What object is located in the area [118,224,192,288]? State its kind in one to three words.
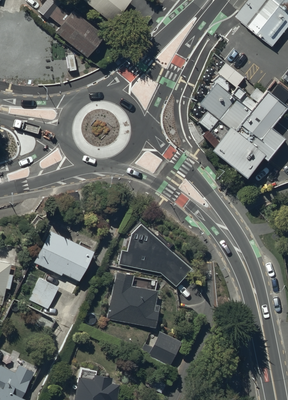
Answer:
building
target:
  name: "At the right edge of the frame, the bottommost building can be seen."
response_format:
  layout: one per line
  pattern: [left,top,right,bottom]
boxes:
[200,63,288,178]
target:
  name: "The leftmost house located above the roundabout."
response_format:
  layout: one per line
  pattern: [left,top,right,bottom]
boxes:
[39,0,102,56]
